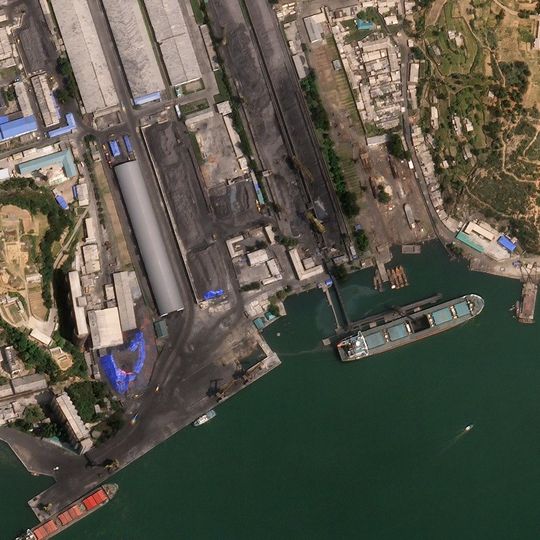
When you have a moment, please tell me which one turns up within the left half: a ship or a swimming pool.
ship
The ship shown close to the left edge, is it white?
No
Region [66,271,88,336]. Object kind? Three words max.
building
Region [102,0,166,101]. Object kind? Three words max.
shed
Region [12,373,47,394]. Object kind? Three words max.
house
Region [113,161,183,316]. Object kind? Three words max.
shed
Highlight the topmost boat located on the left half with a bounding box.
[194,410,216,425]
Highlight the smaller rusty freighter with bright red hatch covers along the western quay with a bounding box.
[17,476,120,540]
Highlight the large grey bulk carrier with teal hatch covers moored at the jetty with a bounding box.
[335,296,486,361]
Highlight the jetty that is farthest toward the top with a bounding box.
[370,246,392,282]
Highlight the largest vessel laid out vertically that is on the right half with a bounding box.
[520,279,536,323]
